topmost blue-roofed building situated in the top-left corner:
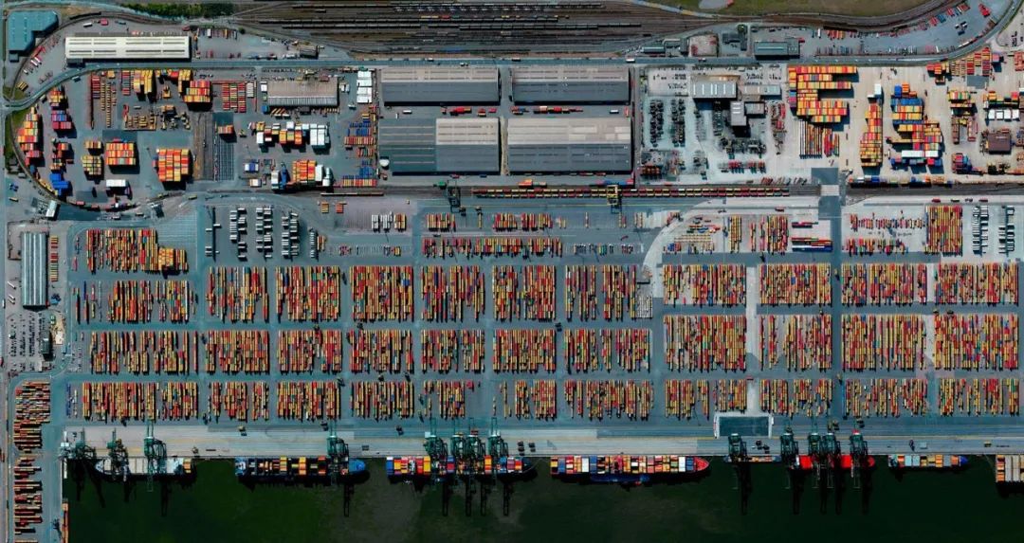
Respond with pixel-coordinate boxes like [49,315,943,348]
[9,11,59,50]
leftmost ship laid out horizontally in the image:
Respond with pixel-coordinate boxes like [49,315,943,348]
[95,459,194,474]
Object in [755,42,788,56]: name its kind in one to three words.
shed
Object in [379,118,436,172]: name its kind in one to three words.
building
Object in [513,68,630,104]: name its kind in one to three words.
building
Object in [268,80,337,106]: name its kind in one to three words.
shed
